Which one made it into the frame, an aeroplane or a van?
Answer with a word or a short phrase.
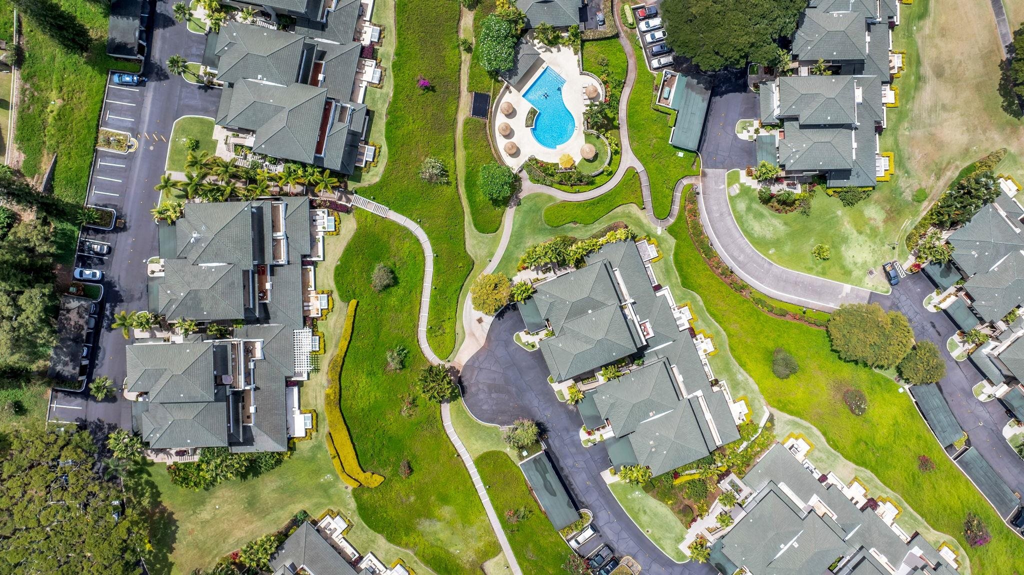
van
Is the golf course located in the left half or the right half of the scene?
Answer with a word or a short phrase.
right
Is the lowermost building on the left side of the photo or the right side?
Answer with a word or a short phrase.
left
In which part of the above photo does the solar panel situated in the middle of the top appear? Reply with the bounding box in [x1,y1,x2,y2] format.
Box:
[470,92,490,119]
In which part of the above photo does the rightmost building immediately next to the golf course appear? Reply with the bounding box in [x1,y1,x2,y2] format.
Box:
[917,176,1024,432]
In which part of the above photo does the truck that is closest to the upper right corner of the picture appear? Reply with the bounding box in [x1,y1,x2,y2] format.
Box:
[879,259,901,288]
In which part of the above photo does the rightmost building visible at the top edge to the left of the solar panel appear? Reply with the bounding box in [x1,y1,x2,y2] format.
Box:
[202,0,378,175]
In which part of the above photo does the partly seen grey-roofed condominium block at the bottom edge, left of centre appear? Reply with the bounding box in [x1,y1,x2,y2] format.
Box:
[269,514,389,575]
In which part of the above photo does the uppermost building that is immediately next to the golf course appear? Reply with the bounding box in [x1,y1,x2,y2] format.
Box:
[752,0,900,187]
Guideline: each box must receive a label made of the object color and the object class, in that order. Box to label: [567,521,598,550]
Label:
white van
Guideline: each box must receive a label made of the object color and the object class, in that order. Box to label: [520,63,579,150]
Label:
blue swimming pool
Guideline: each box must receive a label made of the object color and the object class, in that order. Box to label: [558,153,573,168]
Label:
yellow umbrella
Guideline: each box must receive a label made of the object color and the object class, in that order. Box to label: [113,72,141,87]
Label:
blue car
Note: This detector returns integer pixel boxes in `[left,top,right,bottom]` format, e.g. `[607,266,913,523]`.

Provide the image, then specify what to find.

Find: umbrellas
[498,123,512,137]
[500,102,514,116]
[503,141,517,156]
[558,153,573,168]
[580,144,596,160]
[585,86,598,99]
